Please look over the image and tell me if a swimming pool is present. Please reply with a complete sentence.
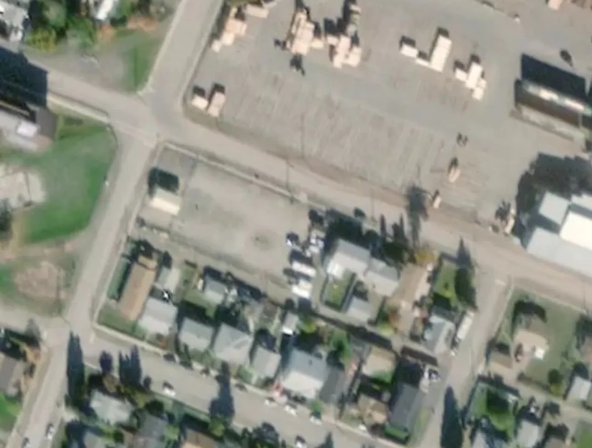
No, there isn't any swimming pool down there.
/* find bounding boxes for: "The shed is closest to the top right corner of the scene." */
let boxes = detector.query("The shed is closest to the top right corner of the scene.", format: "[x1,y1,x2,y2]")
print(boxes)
[516,82,592,130]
